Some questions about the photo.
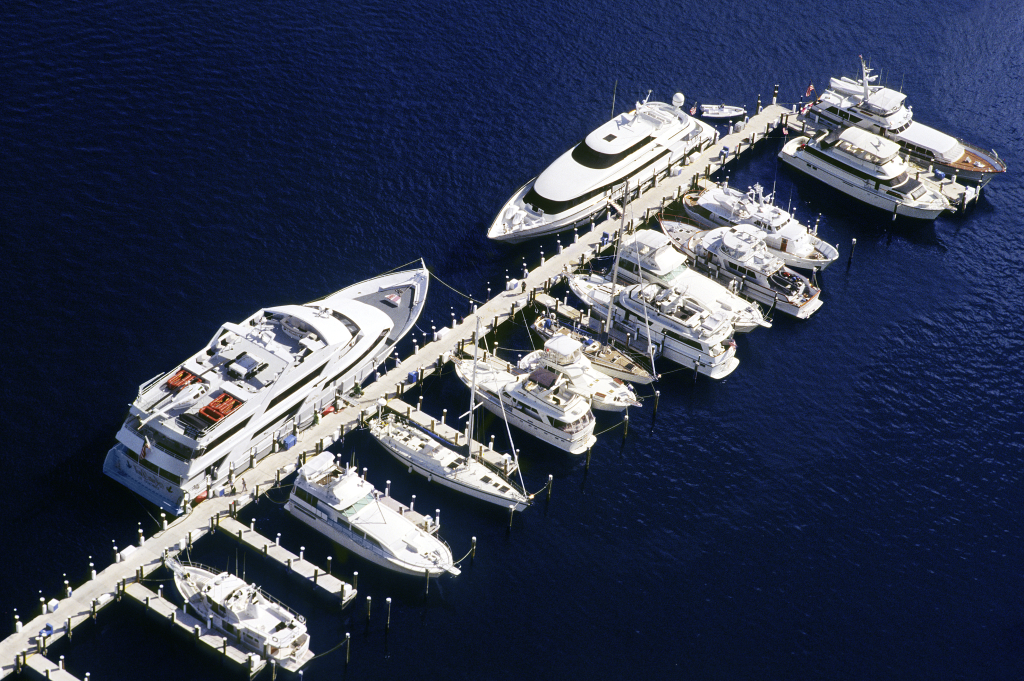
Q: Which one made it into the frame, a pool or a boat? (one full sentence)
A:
Visible in the photo is a boat.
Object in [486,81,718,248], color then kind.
white boat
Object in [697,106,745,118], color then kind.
white boat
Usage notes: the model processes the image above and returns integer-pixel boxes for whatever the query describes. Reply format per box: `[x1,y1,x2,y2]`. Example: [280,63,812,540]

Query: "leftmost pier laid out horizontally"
[22,657,79,681]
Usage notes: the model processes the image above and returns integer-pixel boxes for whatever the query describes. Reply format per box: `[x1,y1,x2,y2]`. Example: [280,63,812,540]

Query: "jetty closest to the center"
[464,344,533,378]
